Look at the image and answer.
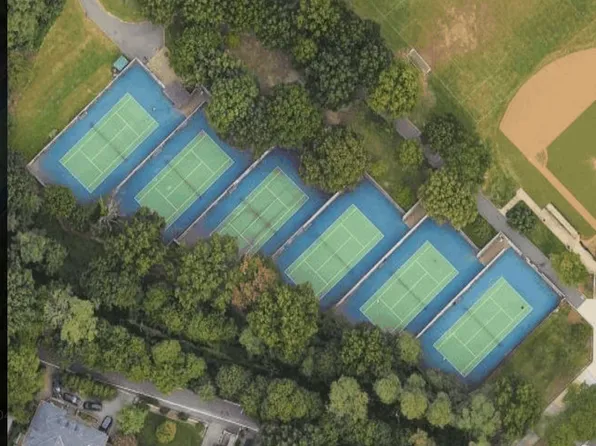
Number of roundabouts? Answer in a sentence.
The count of roundabouts is 0.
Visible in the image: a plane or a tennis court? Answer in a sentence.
I can see a tennis court in this picture.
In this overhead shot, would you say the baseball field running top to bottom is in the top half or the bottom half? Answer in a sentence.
Seen from above, the baseball field running top to bottom lies in the top half of the view.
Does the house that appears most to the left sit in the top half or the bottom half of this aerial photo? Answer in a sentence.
The bottom half of the photo is where the house that appears most to the left is.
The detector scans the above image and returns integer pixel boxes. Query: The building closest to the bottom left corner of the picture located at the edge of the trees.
[19,401,108,446]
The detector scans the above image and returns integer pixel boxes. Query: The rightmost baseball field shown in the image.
[499,48,596,247]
